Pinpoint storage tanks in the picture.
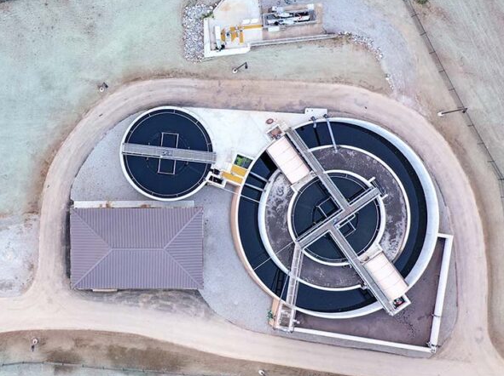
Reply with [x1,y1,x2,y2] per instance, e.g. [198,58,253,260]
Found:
[119,106,218,200]
[223,113,438,331]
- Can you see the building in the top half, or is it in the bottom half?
bottom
